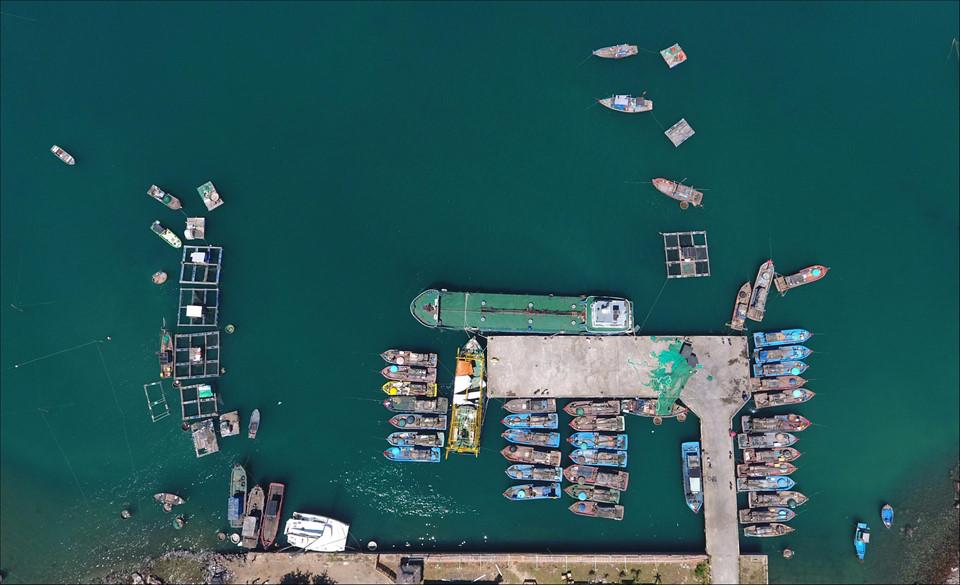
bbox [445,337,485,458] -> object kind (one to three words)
ship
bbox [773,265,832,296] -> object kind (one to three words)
boat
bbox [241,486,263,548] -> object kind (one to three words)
boat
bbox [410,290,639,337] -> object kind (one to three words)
ship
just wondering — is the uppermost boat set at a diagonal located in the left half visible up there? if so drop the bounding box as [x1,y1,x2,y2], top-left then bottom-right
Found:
[50,145,75,163]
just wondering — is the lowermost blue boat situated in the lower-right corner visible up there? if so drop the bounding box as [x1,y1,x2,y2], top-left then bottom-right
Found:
[854,522,871,566]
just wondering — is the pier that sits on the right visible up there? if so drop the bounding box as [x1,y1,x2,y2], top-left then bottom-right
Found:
[488,335,751,585]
